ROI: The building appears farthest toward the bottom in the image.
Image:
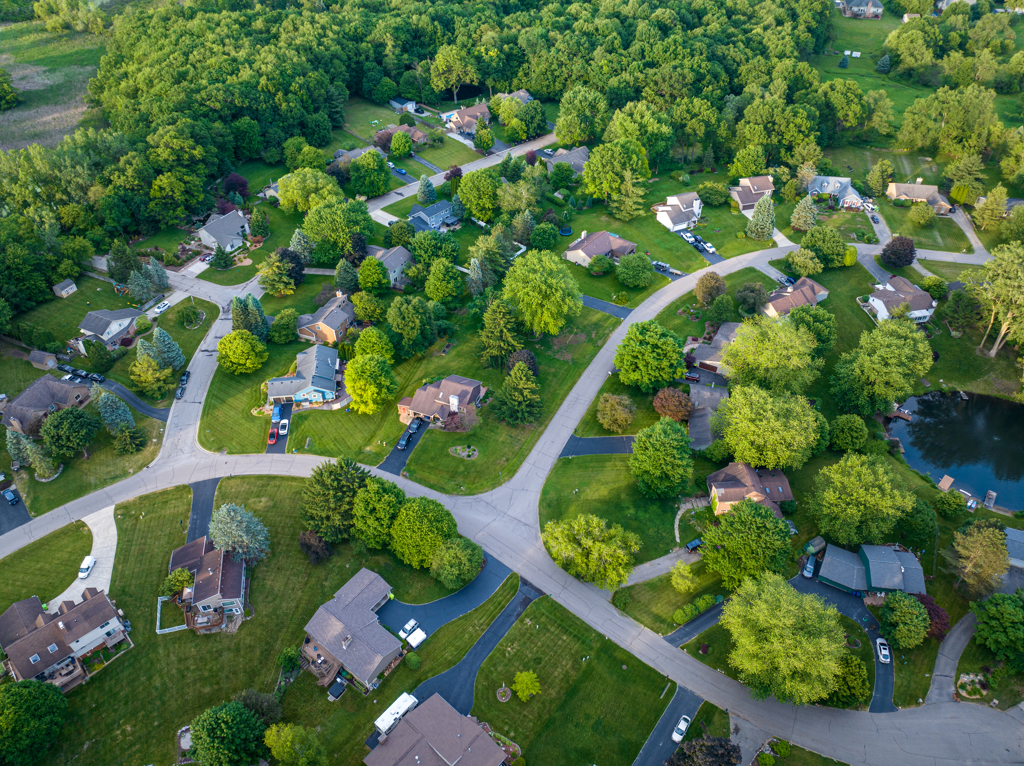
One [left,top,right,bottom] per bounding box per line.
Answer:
[367,693,510,766]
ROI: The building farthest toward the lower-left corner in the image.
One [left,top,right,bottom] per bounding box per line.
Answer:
[0,581,131,694]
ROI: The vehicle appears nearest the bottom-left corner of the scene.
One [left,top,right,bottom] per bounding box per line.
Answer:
[77,554,96,579]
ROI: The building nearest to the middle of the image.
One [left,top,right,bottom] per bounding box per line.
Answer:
[398,374,481,429]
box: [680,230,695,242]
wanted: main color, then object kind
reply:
white vehicle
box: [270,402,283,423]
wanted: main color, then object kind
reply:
blue vehicle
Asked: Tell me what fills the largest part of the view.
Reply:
trees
